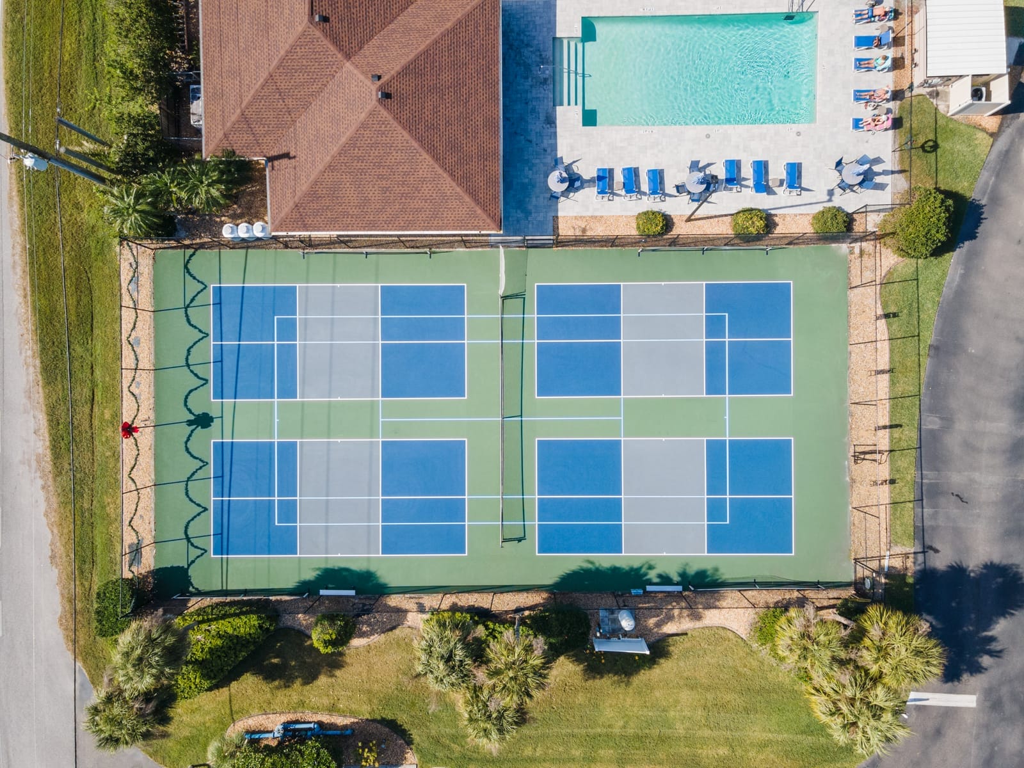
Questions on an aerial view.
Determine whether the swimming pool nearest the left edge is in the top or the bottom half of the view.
top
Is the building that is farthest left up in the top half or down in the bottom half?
top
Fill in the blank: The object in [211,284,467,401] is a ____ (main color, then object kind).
blue sports court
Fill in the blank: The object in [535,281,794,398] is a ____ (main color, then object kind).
blue sports court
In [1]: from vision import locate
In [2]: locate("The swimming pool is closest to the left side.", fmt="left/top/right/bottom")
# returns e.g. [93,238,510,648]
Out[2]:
[546,0,819,126]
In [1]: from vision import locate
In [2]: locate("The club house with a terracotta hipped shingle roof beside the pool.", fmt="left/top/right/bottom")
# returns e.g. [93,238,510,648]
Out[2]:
[201,0,504,234]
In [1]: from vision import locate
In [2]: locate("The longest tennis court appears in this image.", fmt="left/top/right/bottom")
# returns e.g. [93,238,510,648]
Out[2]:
[152,243,855,598]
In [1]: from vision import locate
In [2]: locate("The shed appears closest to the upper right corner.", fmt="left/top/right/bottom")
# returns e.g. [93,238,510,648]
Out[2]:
[914,0,1009,88]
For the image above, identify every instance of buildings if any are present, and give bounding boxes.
[201,0,504,234]
[914,0,1009,88]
